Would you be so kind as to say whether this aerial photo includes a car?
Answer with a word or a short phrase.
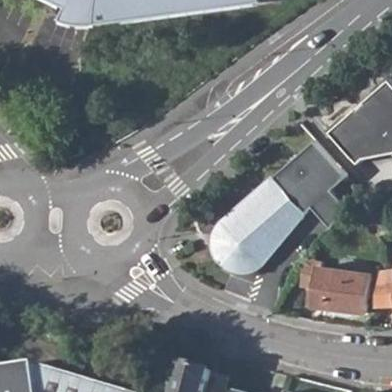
Yes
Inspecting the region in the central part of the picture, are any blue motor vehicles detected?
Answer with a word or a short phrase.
No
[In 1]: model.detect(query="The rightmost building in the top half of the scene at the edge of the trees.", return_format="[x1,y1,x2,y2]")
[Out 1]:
[327,82,392,164]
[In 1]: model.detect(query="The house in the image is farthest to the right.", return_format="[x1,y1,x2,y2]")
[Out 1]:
[372,267,392,310]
